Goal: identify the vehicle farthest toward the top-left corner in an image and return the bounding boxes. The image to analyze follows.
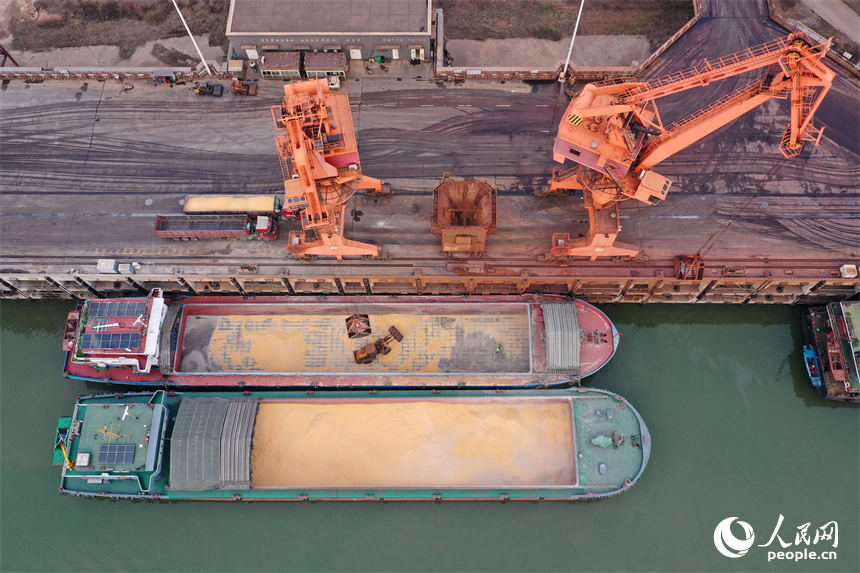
[193,83,229,100]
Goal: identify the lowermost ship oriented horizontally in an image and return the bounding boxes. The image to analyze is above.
[51,387,653,501]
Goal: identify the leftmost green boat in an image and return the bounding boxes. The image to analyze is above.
[45,416,76,467]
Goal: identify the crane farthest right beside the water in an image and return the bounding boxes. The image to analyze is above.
[538,23,842,263]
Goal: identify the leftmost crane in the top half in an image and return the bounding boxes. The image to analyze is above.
[264,77,391,261]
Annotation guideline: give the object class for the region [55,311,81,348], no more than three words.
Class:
boat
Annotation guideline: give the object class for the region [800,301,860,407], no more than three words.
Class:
ship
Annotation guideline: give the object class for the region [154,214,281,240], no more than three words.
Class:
truck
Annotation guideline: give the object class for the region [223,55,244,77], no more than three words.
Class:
shed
